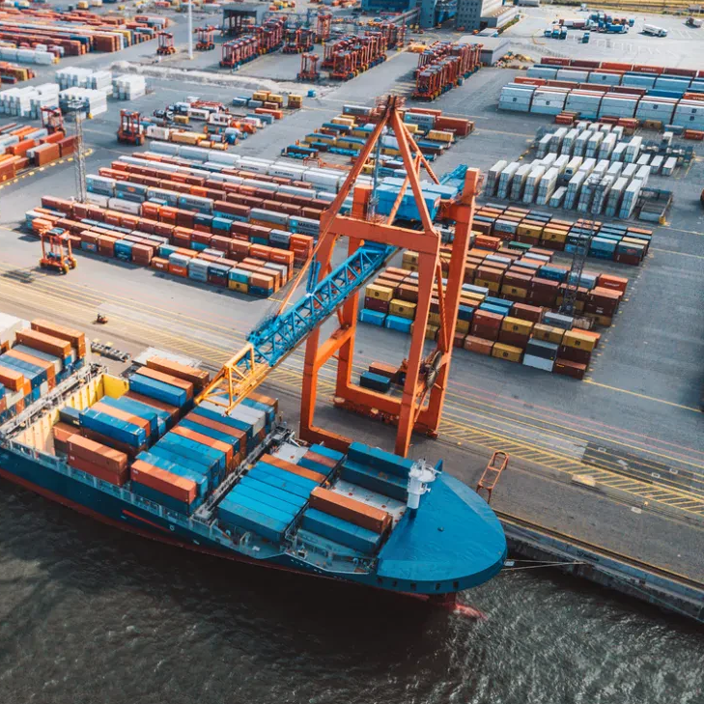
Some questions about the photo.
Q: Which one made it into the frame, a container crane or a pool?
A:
container crane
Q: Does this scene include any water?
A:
Yes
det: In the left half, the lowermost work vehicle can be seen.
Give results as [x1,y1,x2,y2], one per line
[93,309,109,323]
